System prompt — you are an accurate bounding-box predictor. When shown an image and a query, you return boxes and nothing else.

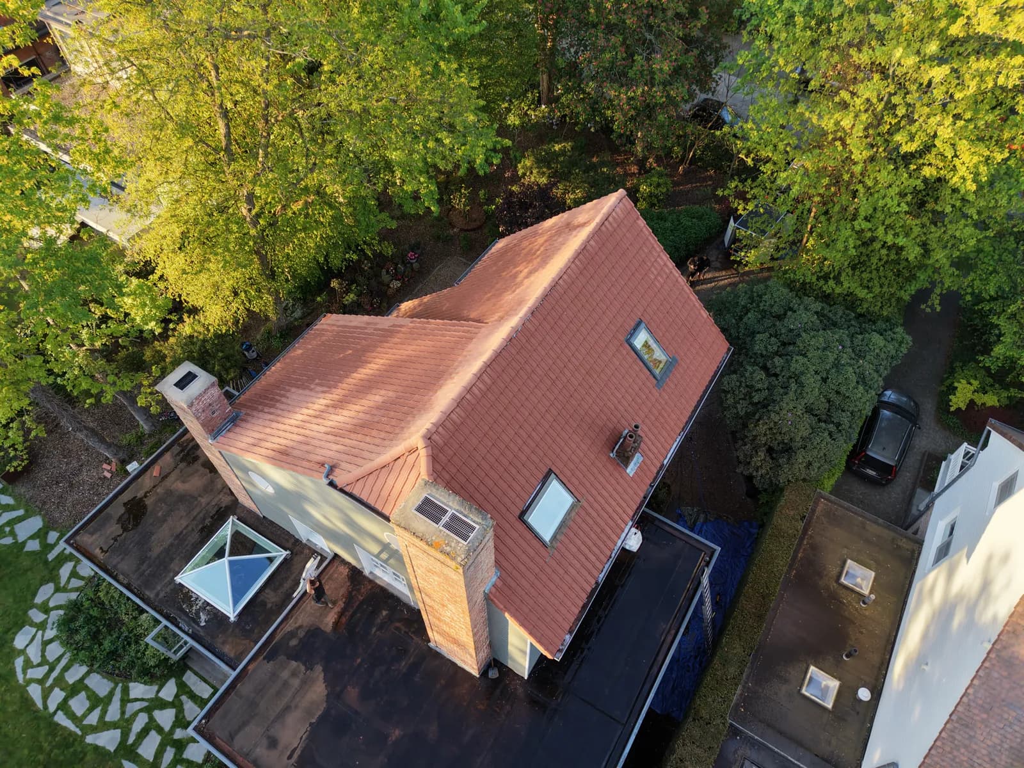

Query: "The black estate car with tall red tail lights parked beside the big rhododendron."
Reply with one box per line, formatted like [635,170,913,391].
[838,377,919,481]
